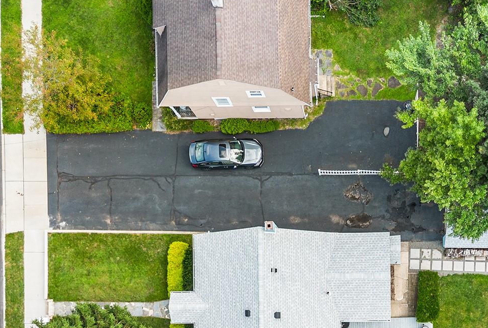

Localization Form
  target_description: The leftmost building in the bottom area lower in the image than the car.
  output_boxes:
[166,220,401,328]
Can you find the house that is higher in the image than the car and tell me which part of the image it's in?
top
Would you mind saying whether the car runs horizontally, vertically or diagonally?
horizontally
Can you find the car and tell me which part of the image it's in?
center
